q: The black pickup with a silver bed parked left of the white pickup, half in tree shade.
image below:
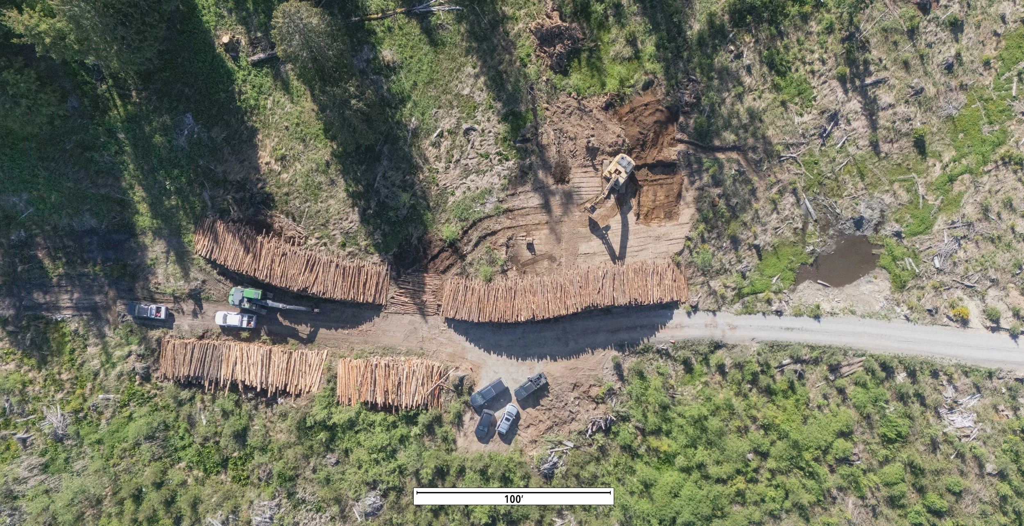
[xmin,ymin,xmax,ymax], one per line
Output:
[128,303,171,320]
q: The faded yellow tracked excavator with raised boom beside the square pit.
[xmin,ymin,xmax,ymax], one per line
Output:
[586,155,634,213]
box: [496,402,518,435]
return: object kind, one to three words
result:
car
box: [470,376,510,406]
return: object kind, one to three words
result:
truck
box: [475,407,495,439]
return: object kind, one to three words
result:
car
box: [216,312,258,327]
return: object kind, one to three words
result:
vehicle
